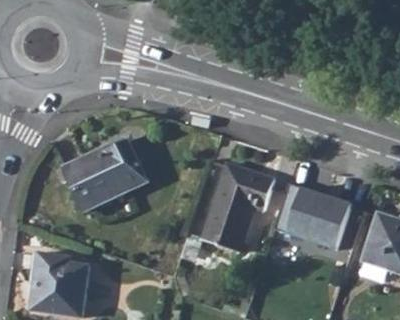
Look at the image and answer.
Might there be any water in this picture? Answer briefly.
No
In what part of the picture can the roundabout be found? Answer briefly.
top left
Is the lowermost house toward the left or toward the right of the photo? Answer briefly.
left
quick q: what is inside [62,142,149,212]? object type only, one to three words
house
